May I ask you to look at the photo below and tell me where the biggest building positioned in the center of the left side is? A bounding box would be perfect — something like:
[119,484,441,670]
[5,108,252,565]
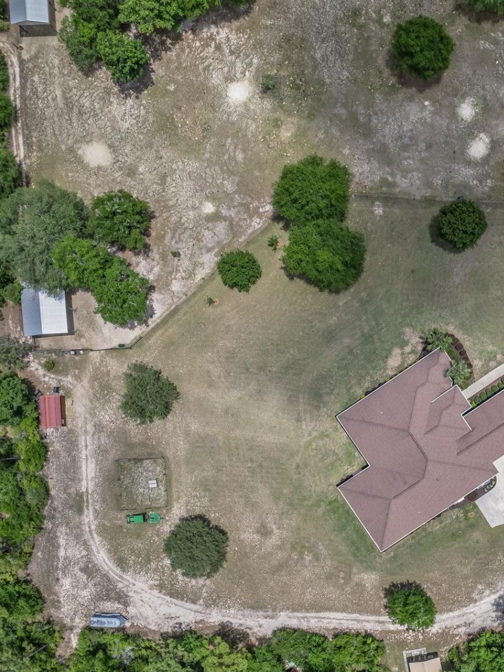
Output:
[20,278,75,337]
